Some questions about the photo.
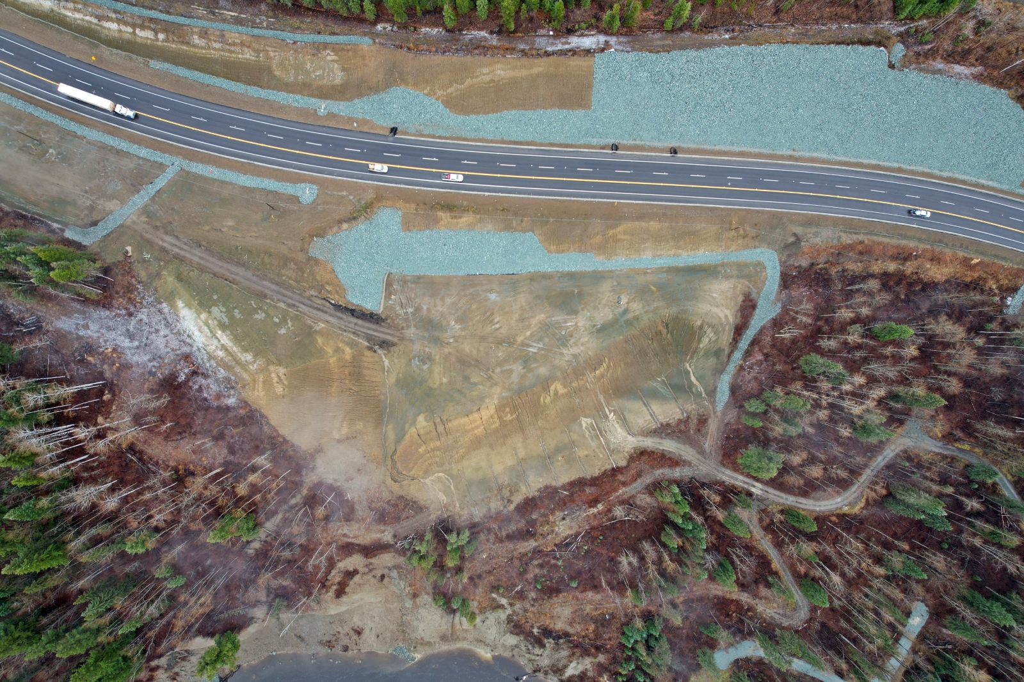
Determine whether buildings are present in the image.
No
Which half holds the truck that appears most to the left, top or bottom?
top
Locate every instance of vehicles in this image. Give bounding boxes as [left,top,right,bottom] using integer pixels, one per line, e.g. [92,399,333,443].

[441,172,462,181]
[366,162,388,172]
[49,79,133,118]
[910,207,932,217]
